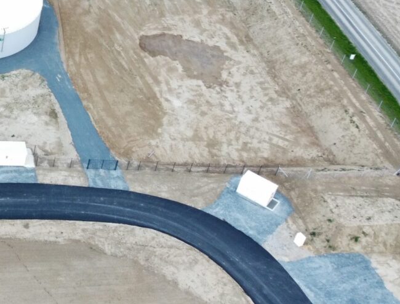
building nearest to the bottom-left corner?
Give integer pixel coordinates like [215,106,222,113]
[0,142,31,165]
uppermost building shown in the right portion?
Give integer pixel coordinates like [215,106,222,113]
[236,172,280,211]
